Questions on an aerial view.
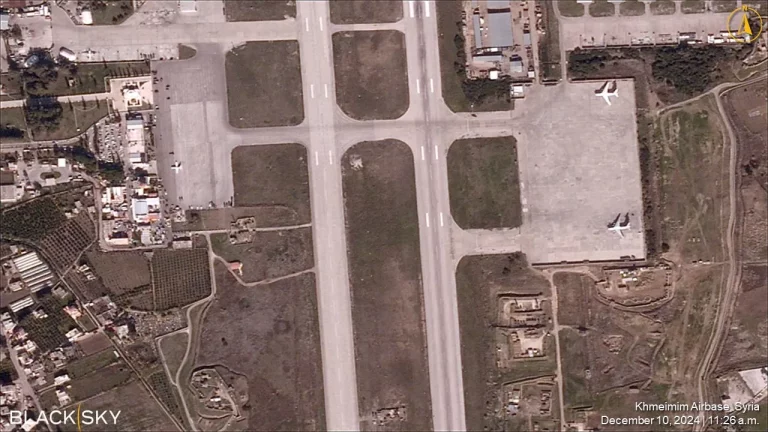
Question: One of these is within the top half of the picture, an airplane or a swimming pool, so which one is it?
airplane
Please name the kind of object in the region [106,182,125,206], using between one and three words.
house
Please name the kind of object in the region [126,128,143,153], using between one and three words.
building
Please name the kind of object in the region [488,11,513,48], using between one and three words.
building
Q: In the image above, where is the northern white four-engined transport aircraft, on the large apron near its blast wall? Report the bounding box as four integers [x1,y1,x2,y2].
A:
[596,82,619,106]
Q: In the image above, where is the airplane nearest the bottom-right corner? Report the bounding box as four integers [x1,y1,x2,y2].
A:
[608,216,632,240]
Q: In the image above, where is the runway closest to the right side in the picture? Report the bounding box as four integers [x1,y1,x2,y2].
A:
[404,0,466,432]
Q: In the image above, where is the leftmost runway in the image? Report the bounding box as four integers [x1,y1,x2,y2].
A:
[297,0,359,432]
